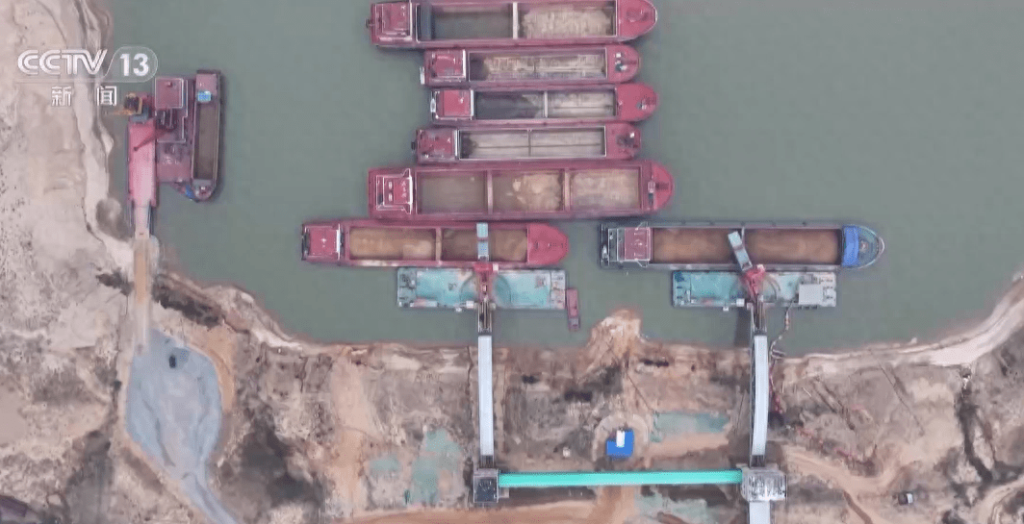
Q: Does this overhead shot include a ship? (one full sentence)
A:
Yes, looking at the shot, I can spot a ship.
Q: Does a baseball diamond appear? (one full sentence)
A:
No, there's no baseball diamond here.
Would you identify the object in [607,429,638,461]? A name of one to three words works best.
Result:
shed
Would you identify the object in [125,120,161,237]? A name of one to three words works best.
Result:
pier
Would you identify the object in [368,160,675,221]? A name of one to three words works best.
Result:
ship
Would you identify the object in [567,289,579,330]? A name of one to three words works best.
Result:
boat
